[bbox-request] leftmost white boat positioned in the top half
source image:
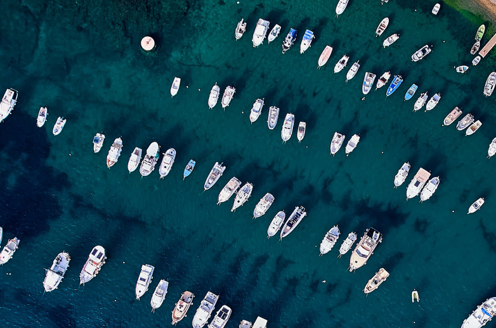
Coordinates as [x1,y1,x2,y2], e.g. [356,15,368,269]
[0,87,20,121]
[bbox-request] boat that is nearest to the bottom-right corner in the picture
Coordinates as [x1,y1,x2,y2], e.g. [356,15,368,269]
[462,296,496,328]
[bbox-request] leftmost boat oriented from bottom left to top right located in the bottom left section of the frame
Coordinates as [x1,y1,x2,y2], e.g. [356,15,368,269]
[0,235,23,265]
